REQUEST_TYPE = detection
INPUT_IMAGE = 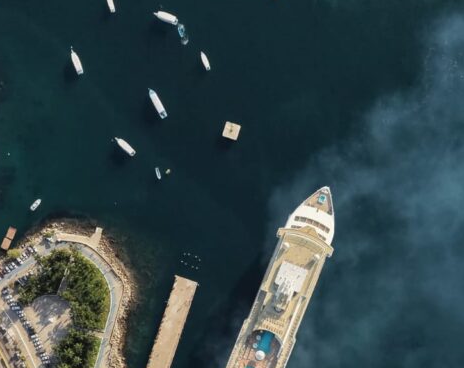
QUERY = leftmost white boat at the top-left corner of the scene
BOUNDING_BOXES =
[70,47,82,75]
